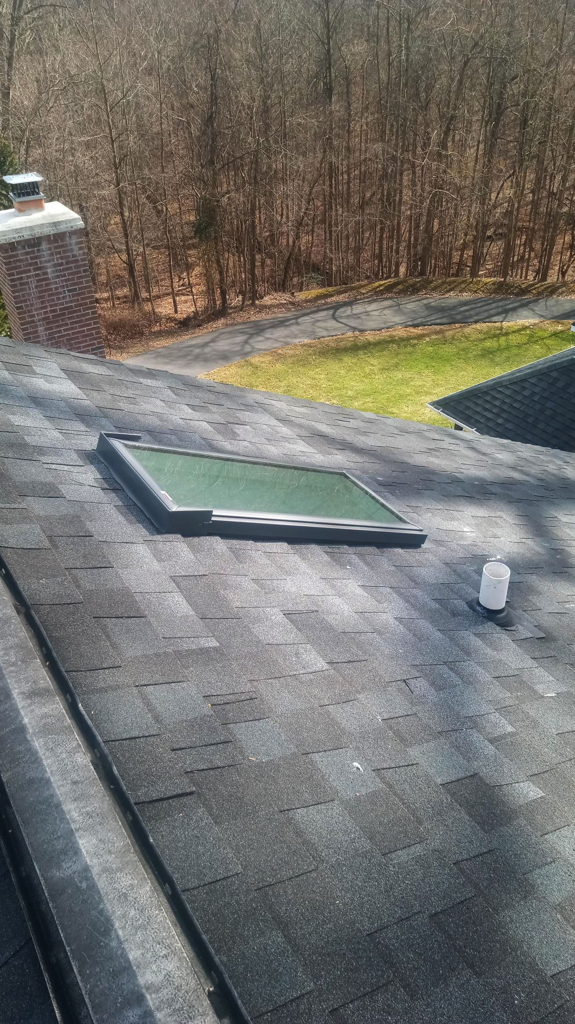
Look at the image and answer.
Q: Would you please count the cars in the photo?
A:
0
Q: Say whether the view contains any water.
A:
No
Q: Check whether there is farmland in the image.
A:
No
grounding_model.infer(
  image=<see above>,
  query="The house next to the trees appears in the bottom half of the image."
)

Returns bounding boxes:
[0,335,575,1024]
